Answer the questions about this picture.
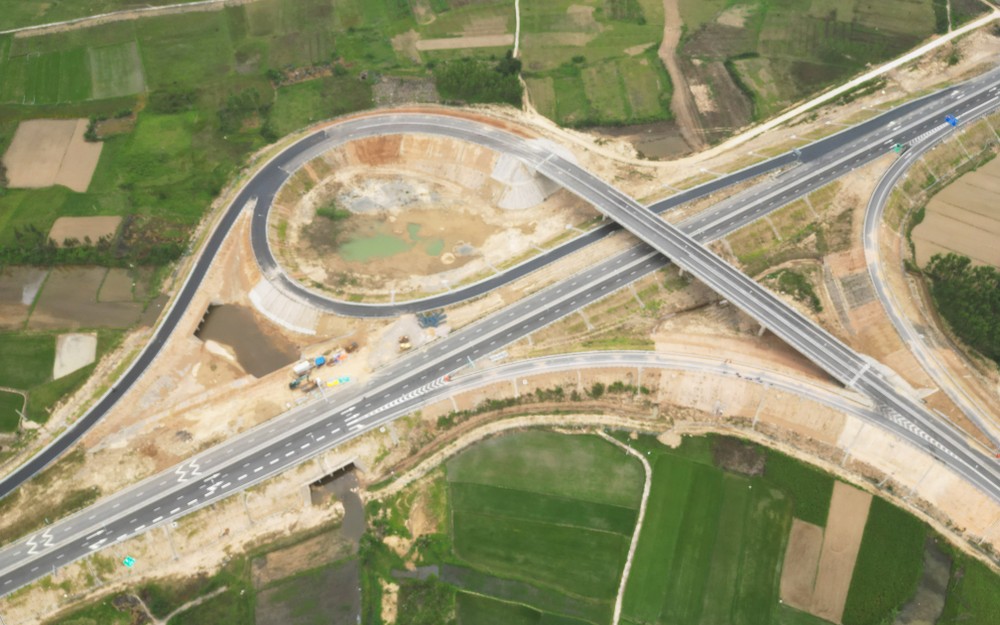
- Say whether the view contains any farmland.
Yes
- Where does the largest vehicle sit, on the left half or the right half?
left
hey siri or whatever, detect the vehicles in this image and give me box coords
[287,373,312,391]
[337,353,349,361]
[347,342,359,353]
[400,335,409,348]
[294,354,324,374]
